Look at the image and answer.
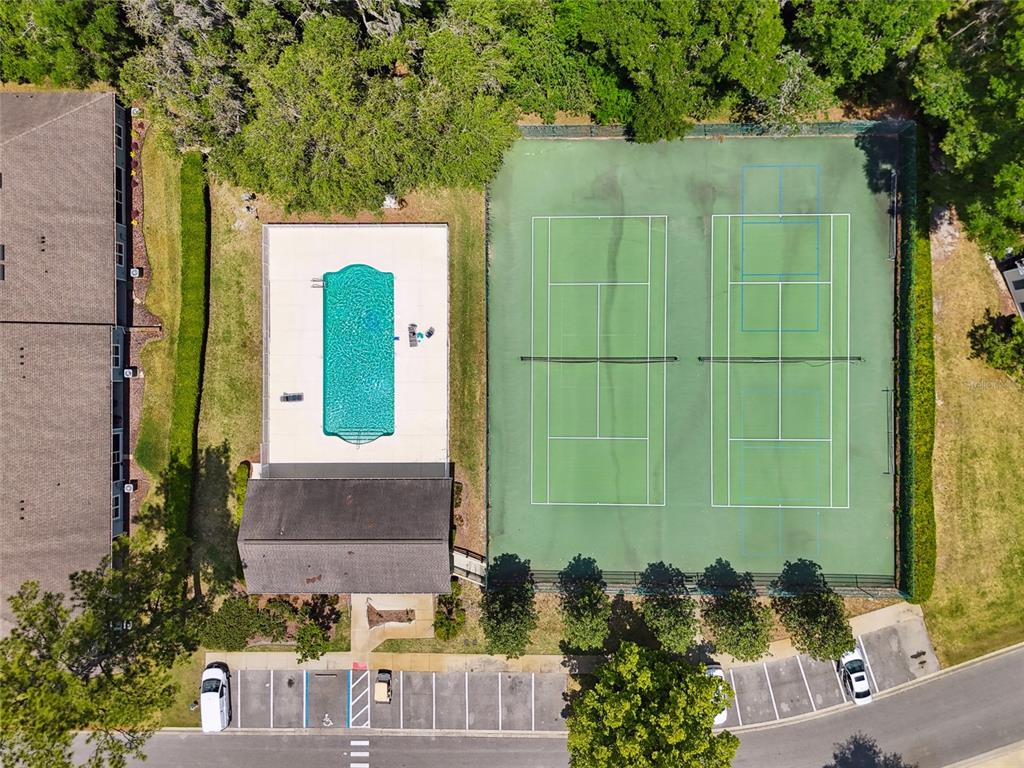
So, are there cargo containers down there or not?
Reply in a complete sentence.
No, I can see no cargo container in this picture.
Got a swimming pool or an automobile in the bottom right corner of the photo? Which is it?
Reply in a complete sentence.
What appears in the bottom right corner of the photo is an automobile.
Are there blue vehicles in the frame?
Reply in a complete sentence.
No, I can't see a single blue vehicle in this photo.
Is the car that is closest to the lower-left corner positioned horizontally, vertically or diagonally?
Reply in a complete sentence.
The car that is closest to the lower-left corner is oriented vertically.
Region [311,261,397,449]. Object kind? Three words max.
swimming pool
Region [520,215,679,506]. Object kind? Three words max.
tennis court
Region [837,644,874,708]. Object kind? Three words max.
car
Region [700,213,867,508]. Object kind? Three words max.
tennis court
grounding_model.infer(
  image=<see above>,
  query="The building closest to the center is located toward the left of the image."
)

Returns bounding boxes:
[238,477,451,598]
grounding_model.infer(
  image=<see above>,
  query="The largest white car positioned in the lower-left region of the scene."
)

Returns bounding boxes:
[199,669,231,731]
